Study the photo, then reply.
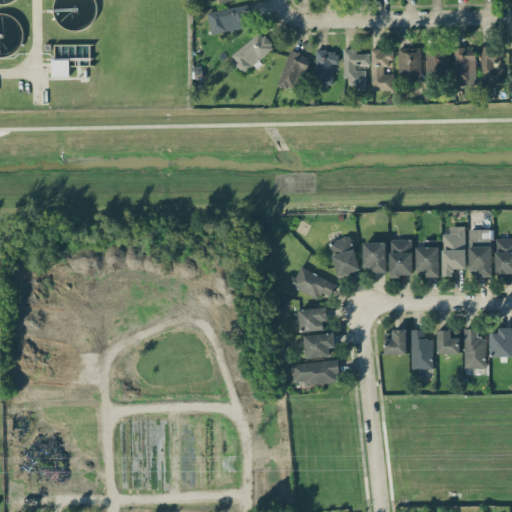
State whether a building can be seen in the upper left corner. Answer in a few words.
Yes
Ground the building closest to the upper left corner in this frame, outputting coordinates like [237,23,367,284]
[50,59,69,77]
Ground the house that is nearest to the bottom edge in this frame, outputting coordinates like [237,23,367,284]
[292,362,339,386]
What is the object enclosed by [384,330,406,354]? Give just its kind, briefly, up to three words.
house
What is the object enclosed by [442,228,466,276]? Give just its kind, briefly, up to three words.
house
